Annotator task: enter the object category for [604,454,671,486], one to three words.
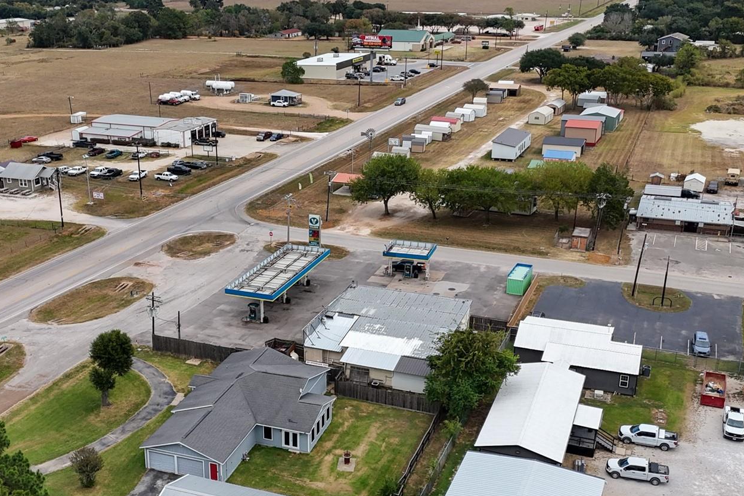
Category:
truck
